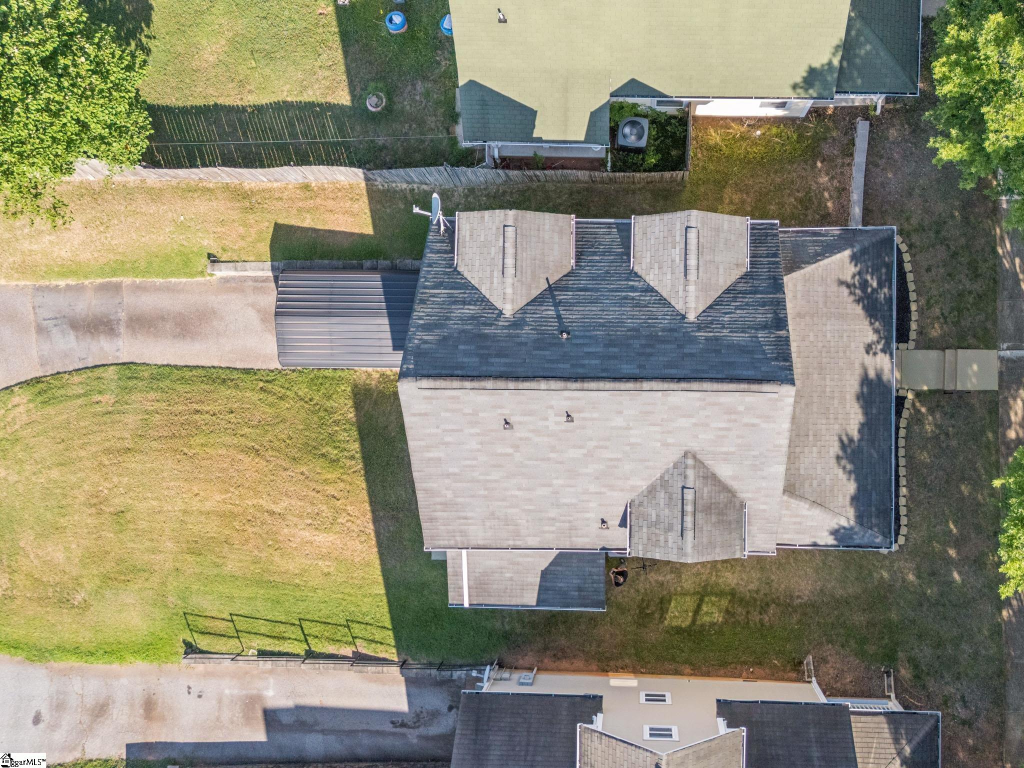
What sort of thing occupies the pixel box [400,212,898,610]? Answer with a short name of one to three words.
house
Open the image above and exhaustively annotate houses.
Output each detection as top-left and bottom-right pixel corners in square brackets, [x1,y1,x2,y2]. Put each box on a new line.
[449,0,920,174]
[450,663,941,768]
[400,212,898,610]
